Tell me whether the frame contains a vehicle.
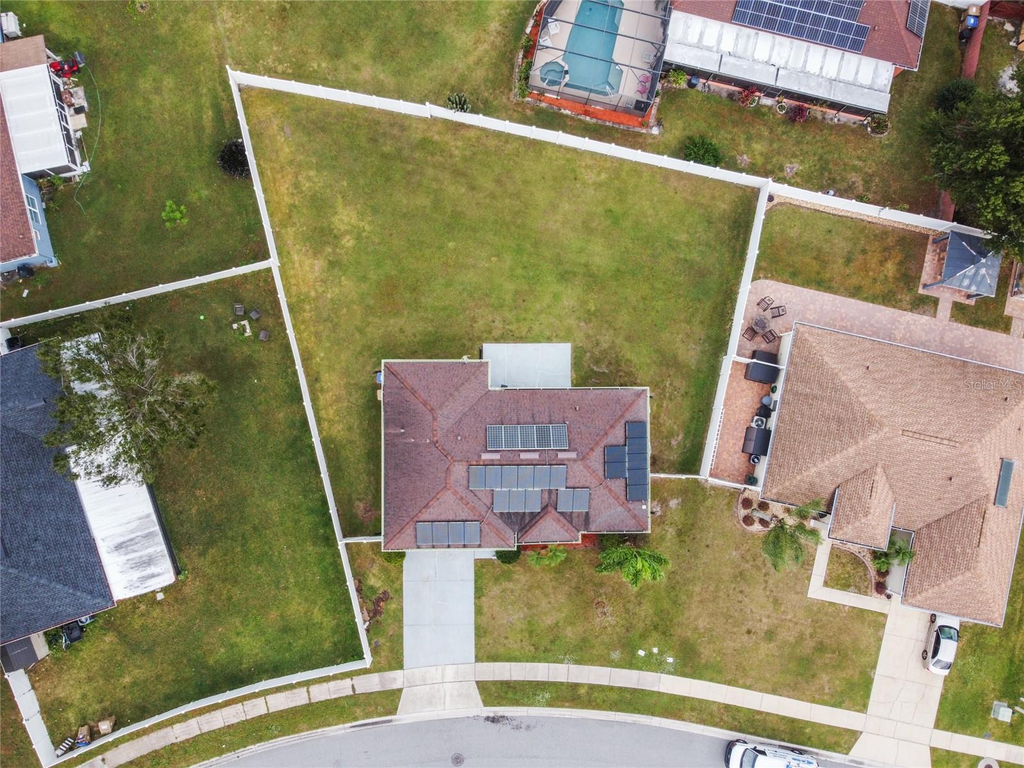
Yes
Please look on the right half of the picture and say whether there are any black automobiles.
No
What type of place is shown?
residential area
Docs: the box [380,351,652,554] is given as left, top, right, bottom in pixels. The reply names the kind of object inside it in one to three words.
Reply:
house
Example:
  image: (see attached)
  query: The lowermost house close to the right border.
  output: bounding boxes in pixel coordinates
[755,320,1024,628]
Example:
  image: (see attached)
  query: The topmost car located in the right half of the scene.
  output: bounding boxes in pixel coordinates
[927,615,971,678]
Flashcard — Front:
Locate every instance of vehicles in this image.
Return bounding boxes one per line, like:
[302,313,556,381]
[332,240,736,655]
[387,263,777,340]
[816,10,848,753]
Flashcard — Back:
[729,740,821,768]
[927,615,971,678]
